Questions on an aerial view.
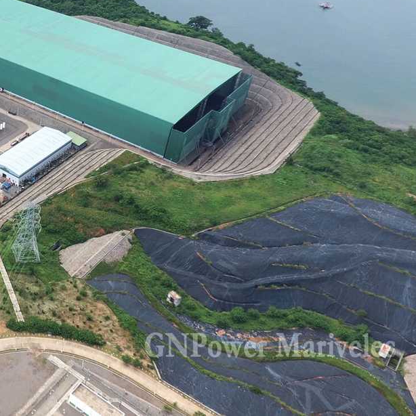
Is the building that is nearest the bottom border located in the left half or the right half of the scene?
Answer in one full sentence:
It is on the left.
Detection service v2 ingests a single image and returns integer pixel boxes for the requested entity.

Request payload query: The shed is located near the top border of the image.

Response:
[0,0,254,163]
